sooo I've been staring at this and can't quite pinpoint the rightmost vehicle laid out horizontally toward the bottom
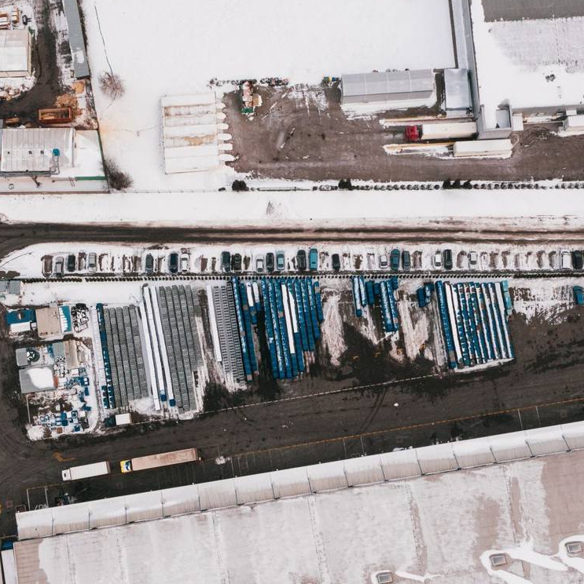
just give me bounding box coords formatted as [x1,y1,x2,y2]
[120,448,202,474]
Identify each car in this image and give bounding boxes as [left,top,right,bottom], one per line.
[265,252,275,273]
[145,253,155,274]
[442,249,453,269]
[221,252,230,273]
[391,250,400,269]
[67,254,76,272]
[233,253,243,271]
[572,286,584,306]
[55,258,64,277]
[332,253,340,272]
[379,253,389,272]
[297,250,306,271]
[309,248,319,269]
[402,250,411,271]
[468,251,477,269]
[433,252,442,269]
[560,250,571,271]
[256,256,265,273]
[276,250,286,271]
[571,249,583,269]
[180,254,190,272]
[169,252,178,273]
